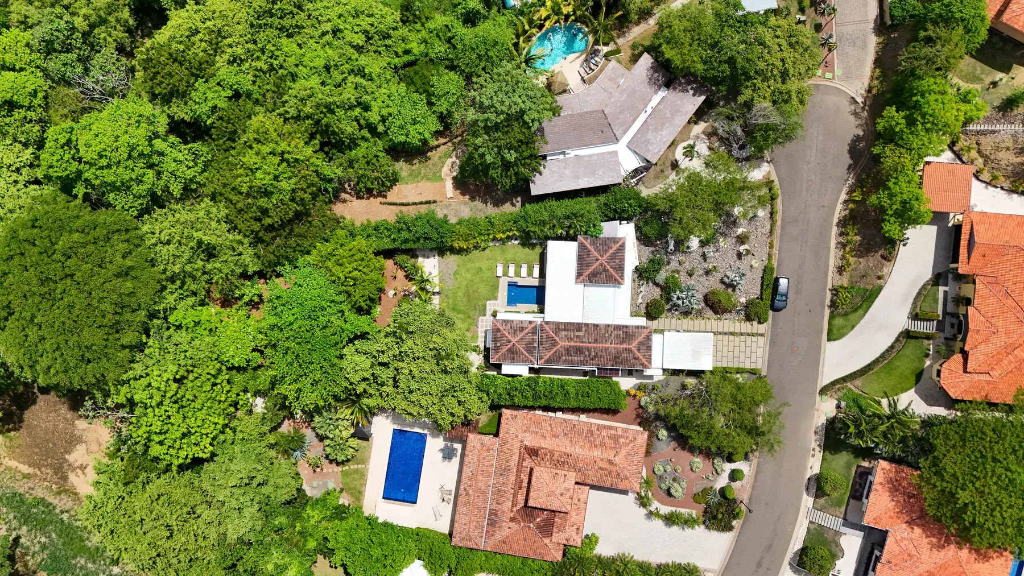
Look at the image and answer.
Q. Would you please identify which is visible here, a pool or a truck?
pool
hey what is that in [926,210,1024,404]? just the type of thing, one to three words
house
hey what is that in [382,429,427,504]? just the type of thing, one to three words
swimming pool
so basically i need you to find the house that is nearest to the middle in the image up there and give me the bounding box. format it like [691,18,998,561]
[486,220,663,376]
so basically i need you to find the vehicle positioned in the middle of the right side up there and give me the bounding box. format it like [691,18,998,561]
[773,277,791,311]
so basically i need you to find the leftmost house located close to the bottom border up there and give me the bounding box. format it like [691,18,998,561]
[446,409,648,562]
